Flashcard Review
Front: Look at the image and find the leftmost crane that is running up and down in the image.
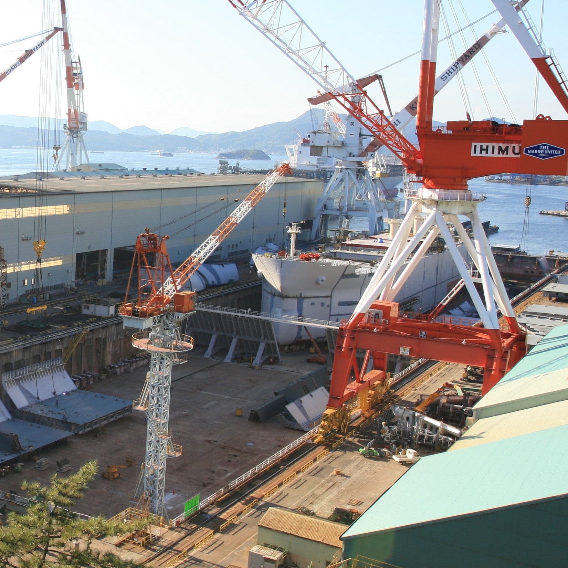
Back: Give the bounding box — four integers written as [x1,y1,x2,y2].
[52,0,91,172]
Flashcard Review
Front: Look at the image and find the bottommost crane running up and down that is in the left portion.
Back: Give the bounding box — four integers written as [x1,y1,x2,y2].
[118,169,298,519]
